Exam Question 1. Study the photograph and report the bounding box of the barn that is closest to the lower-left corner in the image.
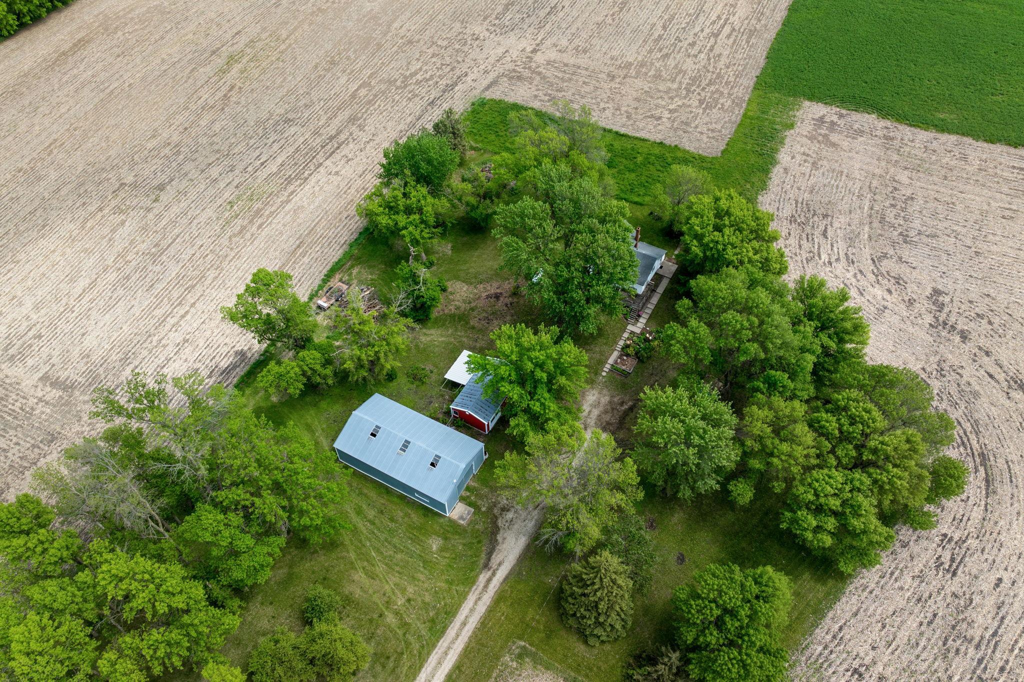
[332,393,485,516]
